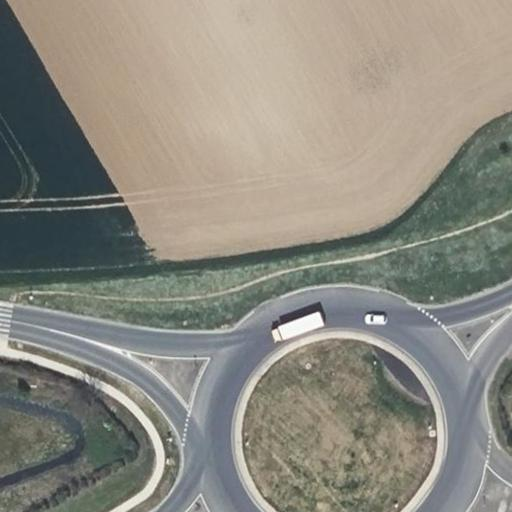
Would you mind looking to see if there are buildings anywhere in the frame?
No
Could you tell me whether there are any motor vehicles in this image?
Yes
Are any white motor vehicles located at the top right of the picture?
No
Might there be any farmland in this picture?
Yes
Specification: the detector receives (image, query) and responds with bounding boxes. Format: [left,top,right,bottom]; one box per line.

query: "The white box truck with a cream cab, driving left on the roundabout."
[271,312,324,342]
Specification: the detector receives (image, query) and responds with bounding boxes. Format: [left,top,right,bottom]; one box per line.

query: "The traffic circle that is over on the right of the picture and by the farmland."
[188,286,490,512]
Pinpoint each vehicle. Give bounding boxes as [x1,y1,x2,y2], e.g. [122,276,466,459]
[365,314,388,325]
[271,312,324,342]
